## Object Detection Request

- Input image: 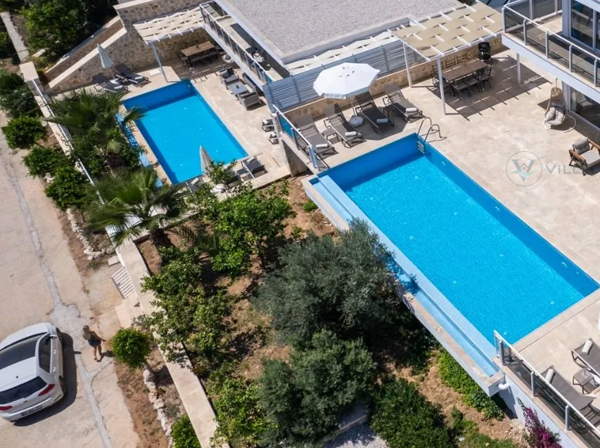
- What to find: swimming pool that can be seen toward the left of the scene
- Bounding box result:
[114,80,252,206]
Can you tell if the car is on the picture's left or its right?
left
